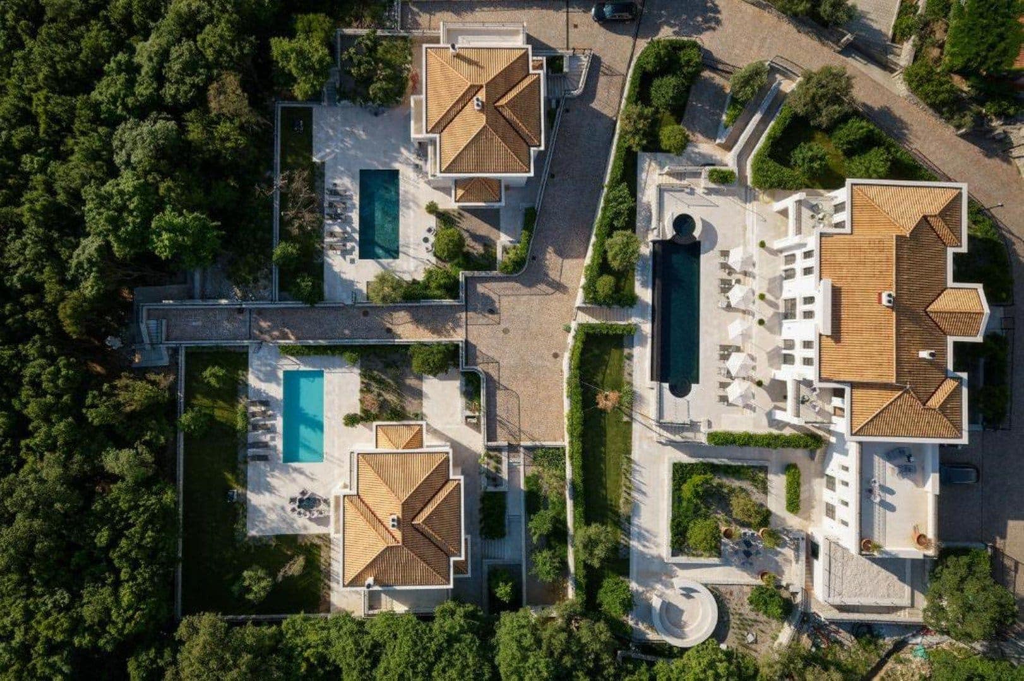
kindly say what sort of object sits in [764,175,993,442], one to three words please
house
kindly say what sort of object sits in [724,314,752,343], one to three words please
umbrella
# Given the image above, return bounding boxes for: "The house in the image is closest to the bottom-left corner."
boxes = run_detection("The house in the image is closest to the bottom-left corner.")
[332,422,471,615]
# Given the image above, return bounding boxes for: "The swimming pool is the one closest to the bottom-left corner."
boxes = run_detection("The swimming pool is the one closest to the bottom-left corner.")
[281,368,326,466]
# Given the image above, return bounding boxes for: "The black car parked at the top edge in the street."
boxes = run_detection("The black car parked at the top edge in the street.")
[591,0,638,24]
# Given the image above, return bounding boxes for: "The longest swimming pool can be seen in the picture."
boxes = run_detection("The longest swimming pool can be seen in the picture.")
[661,242,699,395]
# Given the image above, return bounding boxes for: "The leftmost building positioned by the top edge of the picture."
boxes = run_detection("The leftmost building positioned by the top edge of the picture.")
[411,21,546,208]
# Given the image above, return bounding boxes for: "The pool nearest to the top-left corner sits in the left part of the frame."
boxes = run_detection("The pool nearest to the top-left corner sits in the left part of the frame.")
[357,167,401,262]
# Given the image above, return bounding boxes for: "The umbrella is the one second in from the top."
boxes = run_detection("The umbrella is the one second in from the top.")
[727,282,753,311]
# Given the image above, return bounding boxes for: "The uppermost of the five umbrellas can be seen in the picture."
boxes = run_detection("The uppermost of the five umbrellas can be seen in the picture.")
[726,244,753,272]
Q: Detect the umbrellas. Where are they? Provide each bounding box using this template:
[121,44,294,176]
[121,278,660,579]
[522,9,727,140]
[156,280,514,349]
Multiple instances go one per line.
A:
[727,282,753,311]
[726,377,752,406]
[724,314,752,343]
[726,244,753,272]
[725,350,752,379]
